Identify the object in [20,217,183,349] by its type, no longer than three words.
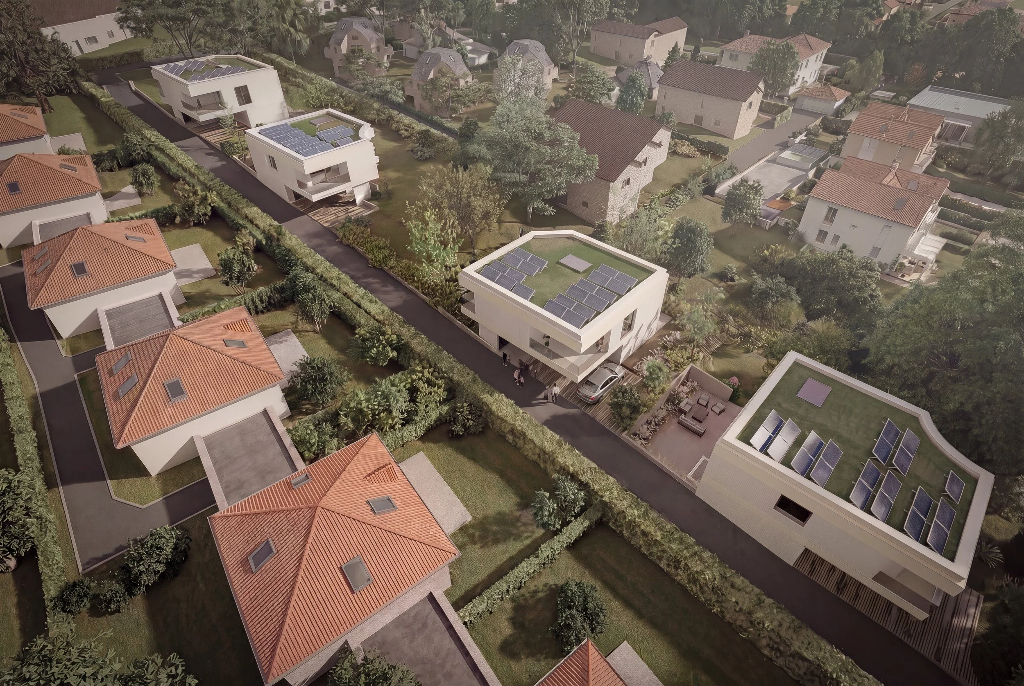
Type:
house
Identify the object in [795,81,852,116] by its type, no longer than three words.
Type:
building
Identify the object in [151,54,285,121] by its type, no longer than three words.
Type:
house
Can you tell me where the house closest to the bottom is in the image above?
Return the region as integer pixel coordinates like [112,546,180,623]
[529,637,628,686]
